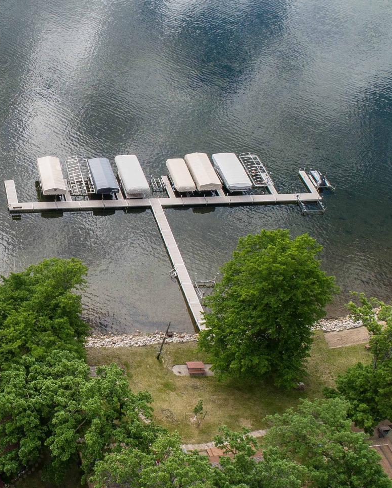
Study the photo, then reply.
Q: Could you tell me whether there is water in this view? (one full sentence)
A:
Yes, the picture does contain water.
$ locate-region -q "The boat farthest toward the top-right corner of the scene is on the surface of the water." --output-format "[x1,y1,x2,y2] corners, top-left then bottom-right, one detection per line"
[311,174,331,189]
